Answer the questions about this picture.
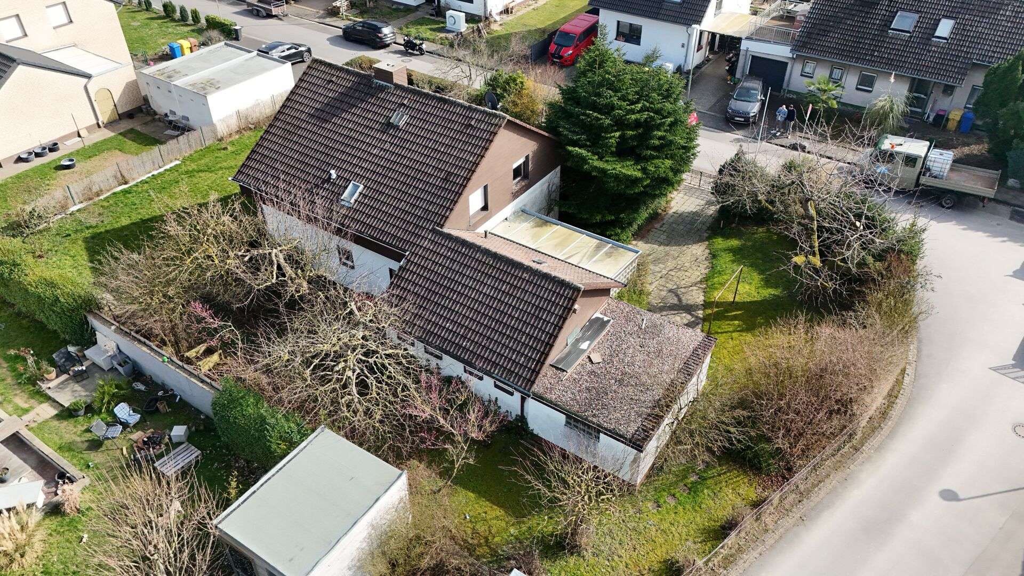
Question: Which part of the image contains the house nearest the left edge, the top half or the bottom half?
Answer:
top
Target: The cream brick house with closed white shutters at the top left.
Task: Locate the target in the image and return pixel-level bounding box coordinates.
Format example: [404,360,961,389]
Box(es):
[0,0,148,164]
